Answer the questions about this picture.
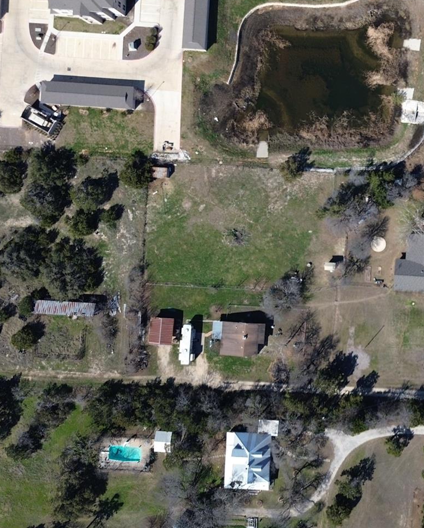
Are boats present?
No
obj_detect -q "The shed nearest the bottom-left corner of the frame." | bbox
[154,430,174,452]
